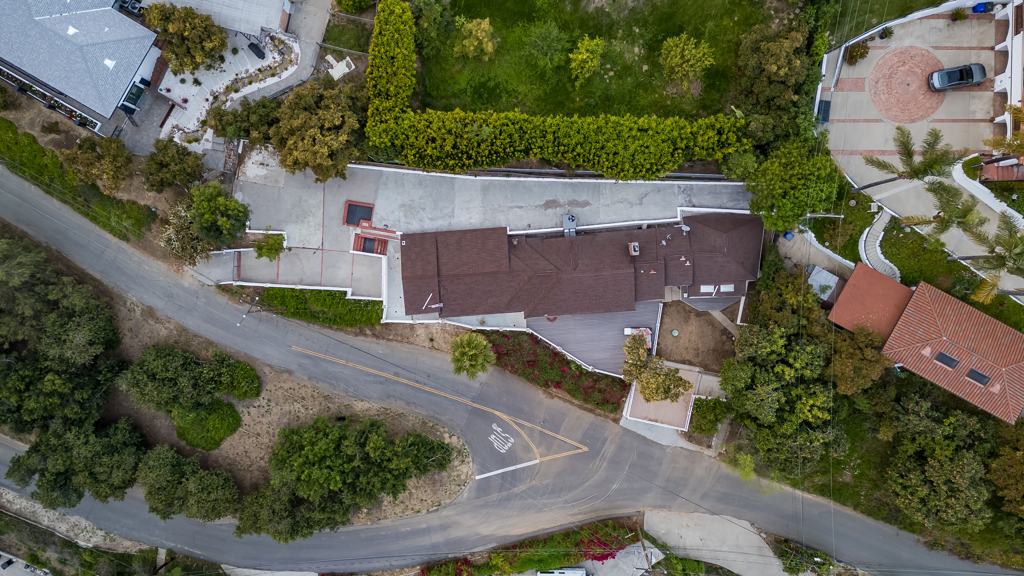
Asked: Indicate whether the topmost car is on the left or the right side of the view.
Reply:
right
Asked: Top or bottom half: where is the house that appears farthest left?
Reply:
top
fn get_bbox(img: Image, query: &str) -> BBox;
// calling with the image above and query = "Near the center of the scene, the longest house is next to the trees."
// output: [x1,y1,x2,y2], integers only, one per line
[401,216,764,320]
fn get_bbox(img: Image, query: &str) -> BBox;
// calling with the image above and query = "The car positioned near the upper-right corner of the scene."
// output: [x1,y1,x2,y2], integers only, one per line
[929,59,990,92]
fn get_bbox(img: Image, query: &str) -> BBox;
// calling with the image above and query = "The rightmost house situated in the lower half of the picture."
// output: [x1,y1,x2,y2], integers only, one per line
[876,280,1024,426]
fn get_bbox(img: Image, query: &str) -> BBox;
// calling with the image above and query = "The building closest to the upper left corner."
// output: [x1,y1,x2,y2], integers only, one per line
[0,0,163,123]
